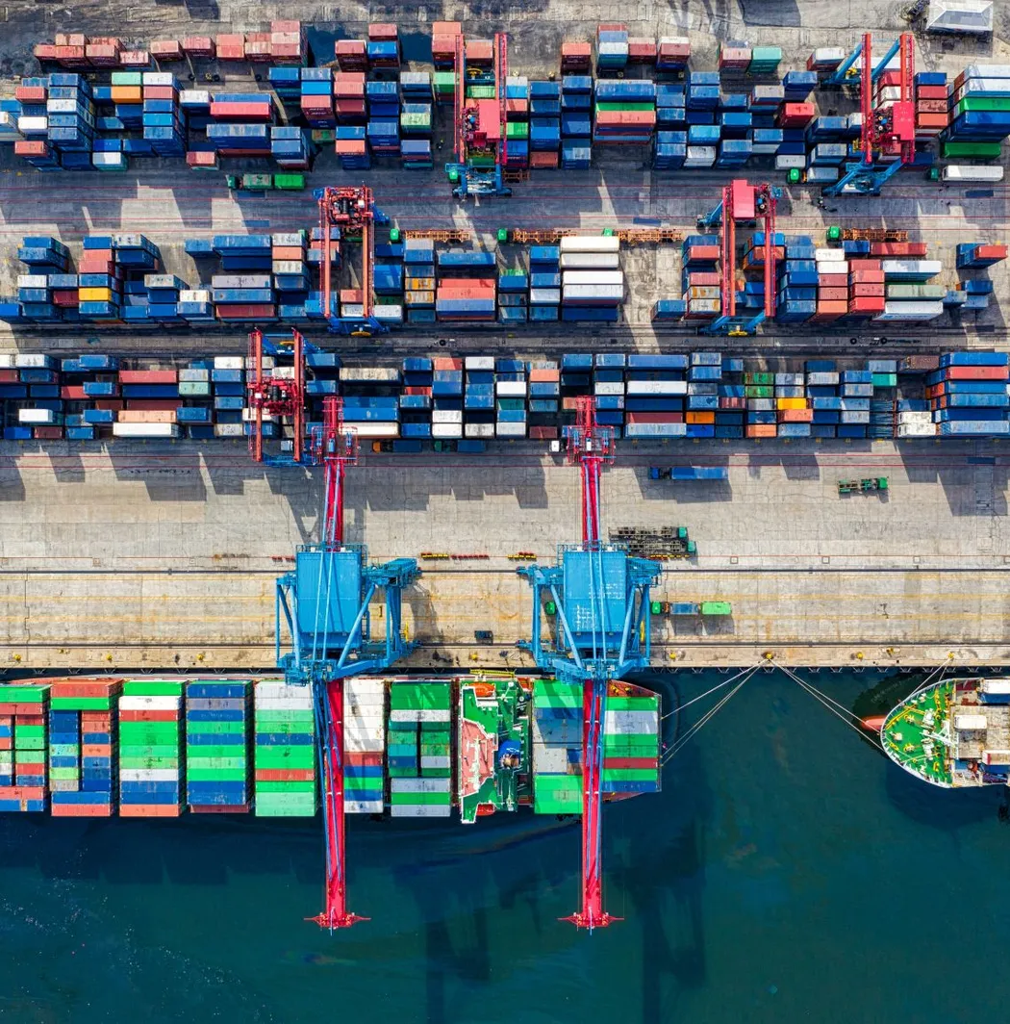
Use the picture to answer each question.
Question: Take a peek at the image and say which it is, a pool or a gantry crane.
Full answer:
Of the two, only a gantry crane appears.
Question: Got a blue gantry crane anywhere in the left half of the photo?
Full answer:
Yes, you'll find a blue gantry crane in the left half of the photo.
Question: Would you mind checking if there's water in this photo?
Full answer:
Yes, water shows up in the scene.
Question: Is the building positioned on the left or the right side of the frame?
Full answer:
The building appears in the right half of the scene.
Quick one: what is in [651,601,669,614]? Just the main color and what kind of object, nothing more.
green vehicle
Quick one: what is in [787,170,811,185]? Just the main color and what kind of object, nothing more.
green vehicle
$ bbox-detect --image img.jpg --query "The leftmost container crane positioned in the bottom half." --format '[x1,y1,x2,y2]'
[271,399,423,935]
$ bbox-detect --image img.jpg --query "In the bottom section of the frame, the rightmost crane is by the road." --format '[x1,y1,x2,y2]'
[510,399,663,935]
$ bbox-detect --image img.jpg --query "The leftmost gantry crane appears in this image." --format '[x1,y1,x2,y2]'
[250,332,326,469]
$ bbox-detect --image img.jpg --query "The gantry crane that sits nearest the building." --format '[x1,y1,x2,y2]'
[825,34,917,196]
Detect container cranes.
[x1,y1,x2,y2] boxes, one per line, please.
[271,399,423,935]
[825,34,917,196]
[250,332,326,469]
[700,175,780,337]
[510,399,663,935]
[450,34,510,197]
[318,183,388,337]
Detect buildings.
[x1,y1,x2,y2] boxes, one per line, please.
[924,0,992,34]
